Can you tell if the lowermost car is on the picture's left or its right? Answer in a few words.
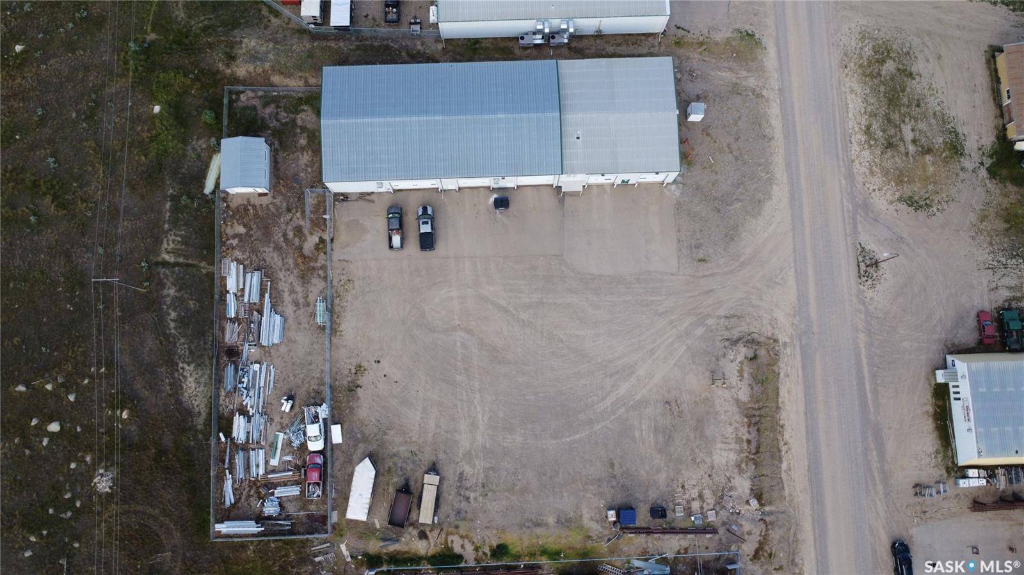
right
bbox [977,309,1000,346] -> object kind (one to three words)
car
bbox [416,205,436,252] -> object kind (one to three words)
vehicle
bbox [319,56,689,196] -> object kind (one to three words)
building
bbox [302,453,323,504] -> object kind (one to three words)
truck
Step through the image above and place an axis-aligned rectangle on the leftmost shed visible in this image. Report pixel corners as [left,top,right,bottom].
[220,136,270,198]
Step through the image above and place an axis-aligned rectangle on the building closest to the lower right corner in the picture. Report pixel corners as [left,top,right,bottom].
[935,352,1024,466]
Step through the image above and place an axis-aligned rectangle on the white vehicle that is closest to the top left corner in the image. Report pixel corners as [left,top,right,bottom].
[301,0,326,27]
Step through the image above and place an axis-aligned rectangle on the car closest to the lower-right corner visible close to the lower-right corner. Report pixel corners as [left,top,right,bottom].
[891,541,918,575]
